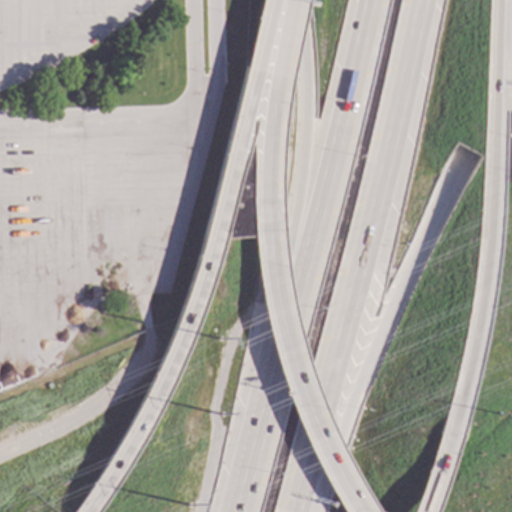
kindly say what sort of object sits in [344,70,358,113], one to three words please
vehicle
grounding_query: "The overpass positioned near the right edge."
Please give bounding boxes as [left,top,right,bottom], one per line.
[418,0,512,512]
